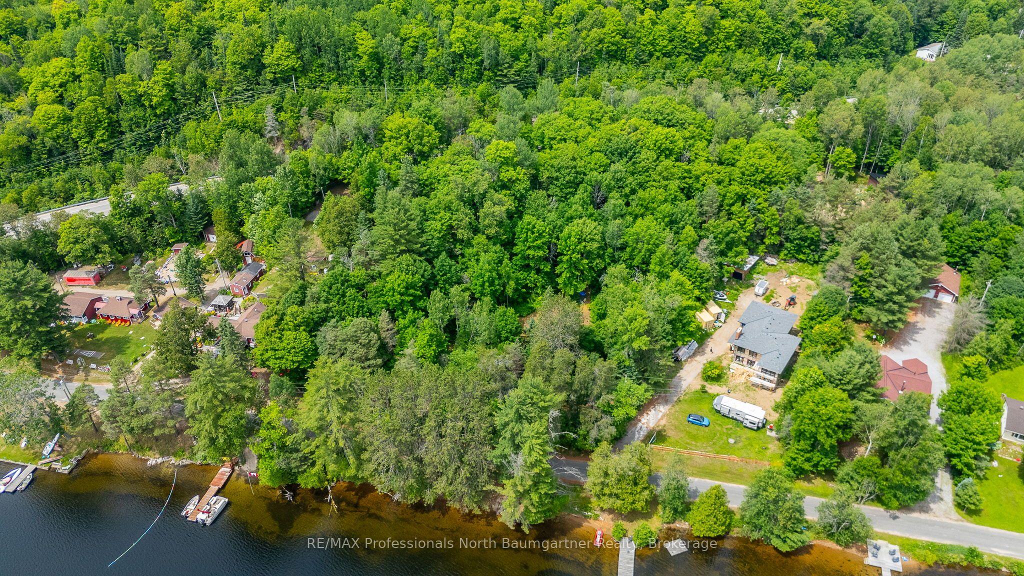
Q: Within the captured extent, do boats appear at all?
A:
Yes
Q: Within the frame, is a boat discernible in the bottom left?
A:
Yes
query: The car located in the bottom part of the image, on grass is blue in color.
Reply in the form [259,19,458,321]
[687,411,710,427]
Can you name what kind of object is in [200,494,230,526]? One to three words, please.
boat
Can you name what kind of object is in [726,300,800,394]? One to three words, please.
house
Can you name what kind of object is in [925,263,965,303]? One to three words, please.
building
